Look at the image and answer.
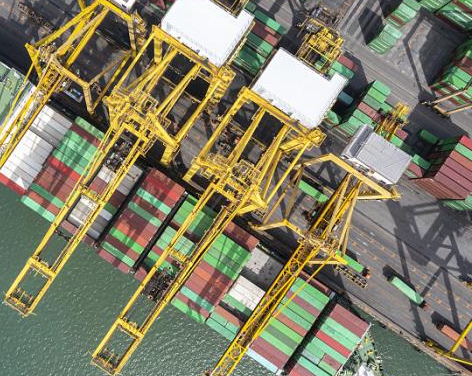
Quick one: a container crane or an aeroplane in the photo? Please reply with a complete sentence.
There is a container crane in the scene.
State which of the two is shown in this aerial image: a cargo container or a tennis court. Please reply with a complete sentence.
The one in the frame is a cargo container.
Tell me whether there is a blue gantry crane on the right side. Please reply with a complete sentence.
No, there's no blue gantry crane to be seen on the right side.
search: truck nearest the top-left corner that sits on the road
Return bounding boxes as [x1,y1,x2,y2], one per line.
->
[19,0,56,30]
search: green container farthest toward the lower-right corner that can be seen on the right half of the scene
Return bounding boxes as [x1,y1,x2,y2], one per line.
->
[387,274,422,303]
